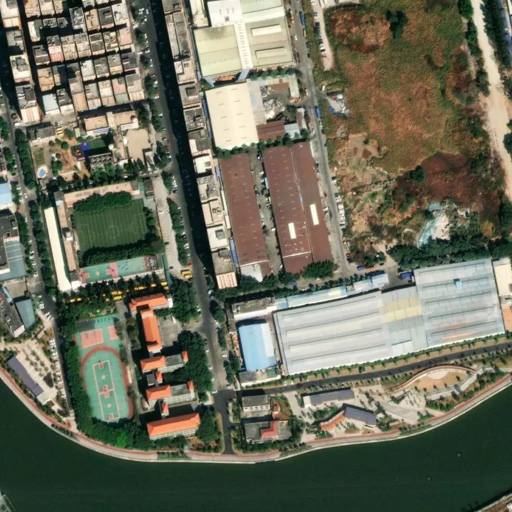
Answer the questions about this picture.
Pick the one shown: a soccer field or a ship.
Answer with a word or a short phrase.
soccer field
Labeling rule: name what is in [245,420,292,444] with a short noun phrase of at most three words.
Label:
house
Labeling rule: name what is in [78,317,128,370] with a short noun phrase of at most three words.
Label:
basketball court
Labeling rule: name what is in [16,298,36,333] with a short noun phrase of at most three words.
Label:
shed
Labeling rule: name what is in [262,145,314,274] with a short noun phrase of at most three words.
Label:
building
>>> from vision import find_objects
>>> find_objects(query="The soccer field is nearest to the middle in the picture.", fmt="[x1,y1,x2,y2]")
[76,198,150,255]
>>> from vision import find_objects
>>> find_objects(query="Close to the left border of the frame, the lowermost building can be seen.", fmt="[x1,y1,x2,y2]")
[8,356,44,398]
